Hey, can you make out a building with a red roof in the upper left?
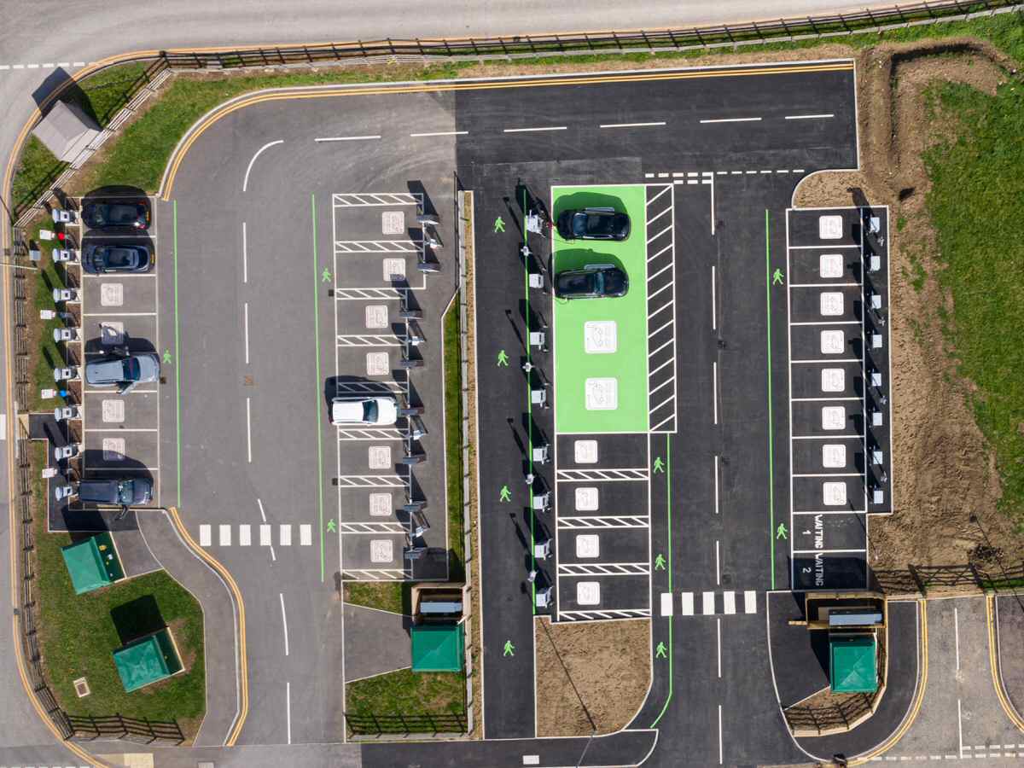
No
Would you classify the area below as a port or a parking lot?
parking lot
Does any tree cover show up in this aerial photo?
No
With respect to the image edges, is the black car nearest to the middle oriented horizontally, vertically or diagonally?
horizontally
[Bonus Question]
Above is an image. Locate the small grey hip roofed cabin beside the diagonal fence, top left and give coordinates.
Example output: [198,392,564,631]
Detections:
[31,100,106,164]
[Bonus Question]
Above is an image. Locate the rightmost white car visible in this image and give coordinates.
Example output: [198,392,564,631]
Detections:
[330,394,398,429]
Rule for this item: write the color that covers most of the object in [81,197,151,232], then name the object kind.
black car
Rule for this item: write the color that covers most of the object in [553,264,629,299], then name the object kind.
black car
